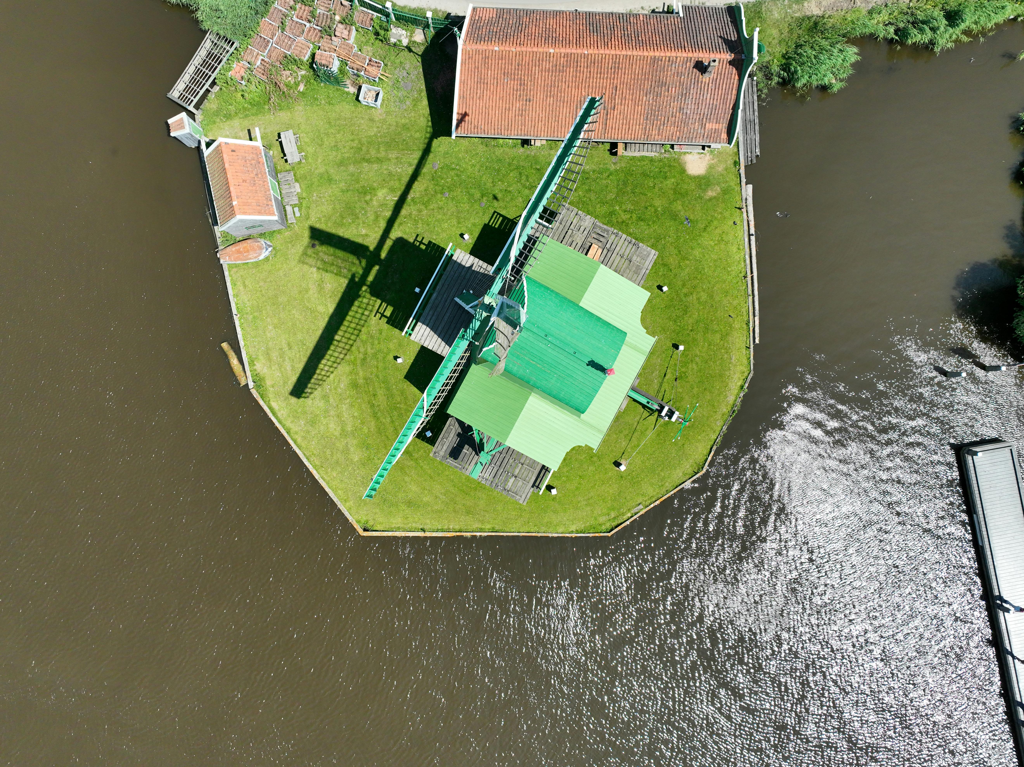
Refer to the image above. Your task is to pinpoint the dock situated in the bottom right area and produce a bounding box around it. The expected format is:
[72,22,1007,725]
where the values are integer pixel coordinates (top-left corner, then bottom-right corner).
[962,440,1024,767]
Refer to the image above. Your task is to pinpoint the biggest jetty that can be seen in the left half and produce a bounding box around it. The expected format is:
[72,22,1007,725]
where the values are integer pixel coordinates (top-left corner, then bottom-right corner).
[165,28,237,117]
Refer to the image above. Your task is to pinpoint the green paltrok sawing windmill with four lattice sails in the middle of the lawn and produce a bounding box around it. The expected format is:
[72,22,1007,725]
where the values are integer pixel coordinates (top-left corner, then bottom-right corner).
[359,93,697,507]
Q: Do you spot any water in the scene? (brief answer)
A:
Yes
